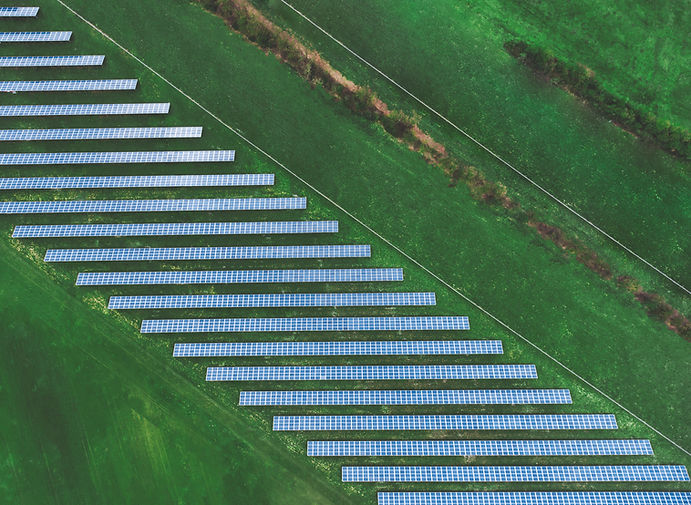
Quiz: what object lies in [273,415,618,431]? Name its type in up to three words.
solar array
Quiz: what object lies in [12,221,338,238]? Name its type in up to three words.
solar array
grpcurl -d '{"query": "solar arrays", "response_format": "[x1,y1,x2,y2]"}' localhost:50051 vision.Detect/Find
[342,466,690,481]
[0,103,170,117]
[0,55,105,68]
[44,244,370,261]
[239,390,572,405]
[108,292,437,309]
[273,415,618,431]
[307,440,653,456]
[0,126,202,141]
[140,317,470,333]
[0,31,72,43]
[0,7,39,18]
[0,197,306,214]
[0,174,275,190]
[173,340,503,357]
[206,365,538,381]
[12,221,338,238]
[0,79,138,92]
[0,150,235,165]
[76,268,404,285]
[377,492,691,505]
